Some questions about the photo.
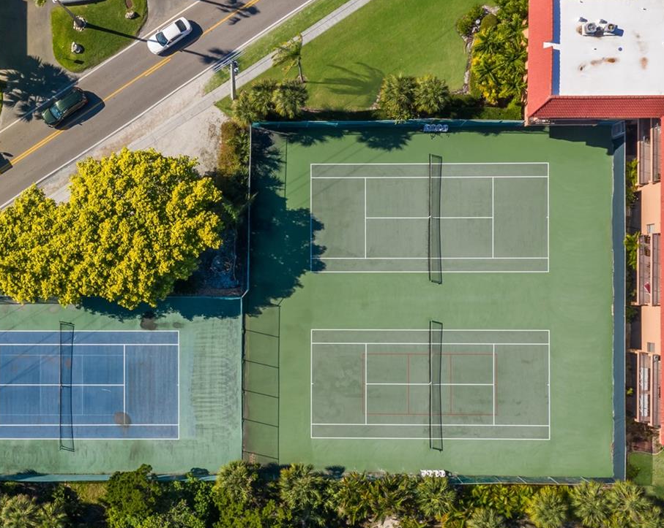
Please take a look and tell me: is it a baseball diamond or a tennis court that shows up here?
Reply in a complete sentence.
This aerial view contains a tennis court.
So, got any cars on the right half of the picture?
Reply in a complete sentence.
No, on the right half of the picture there is no car.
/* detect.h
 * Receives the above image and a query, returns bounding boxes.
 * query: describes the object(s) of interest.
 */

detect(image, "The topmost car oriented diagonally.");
[146,16,194,56]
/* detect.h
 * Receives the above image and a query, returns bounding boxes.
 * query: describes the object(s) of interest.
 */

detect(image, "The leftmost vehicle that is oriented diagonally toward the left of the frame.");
[41,86,89,126]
